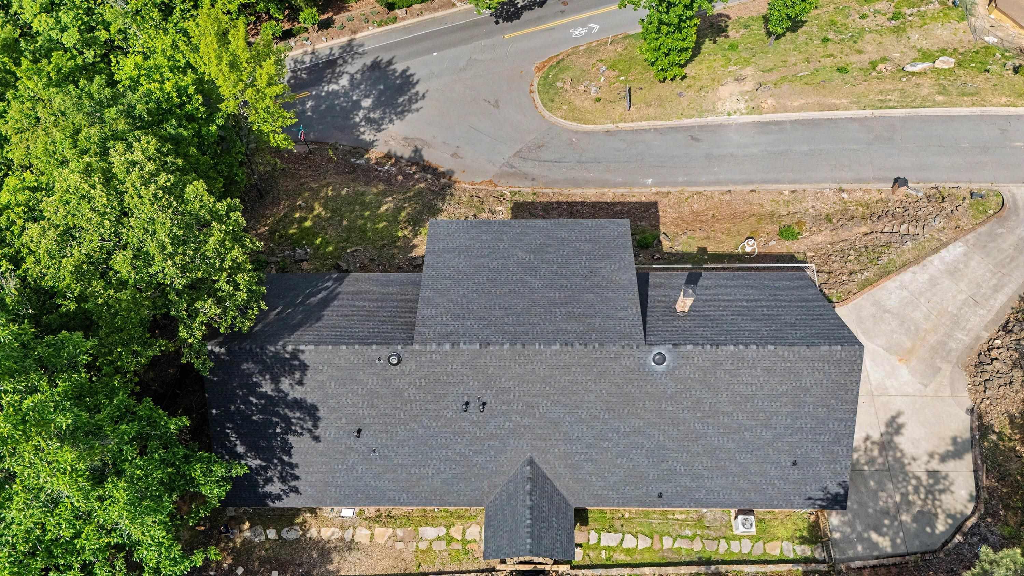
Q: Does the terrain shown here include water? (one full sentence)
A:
No, the scene doesn't show any water.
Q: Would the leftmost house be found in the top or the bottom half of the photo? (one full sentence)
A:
The leftmost house sits in the bottom half of the picture.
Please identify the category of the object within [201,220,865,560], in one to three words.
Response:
house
